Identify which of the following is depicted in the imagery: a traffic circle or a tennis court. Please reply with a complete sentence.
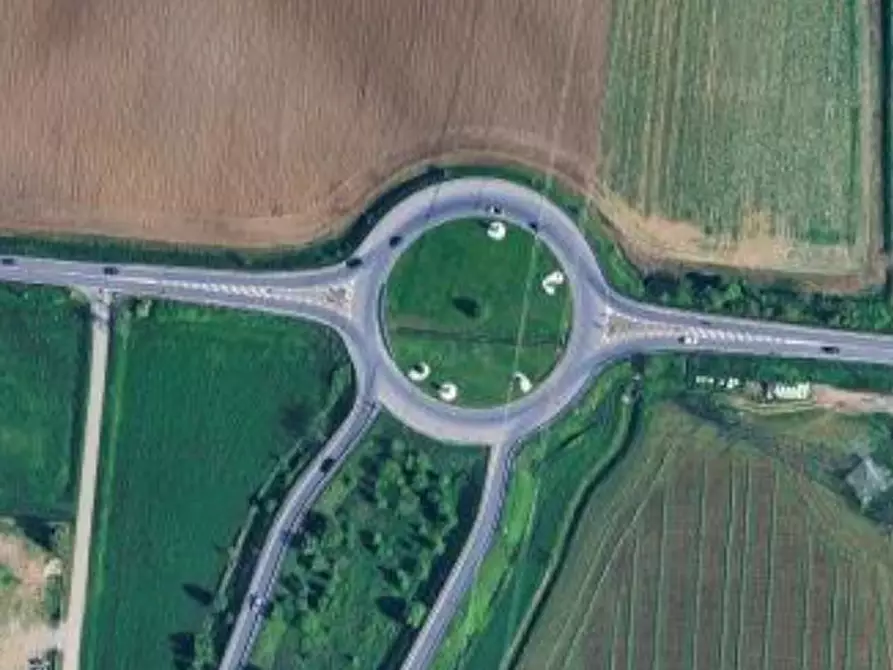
It is a traffic circle that can be seen here.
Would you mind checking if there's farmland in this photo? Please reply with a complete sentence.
Yes, the picture does contain farmland.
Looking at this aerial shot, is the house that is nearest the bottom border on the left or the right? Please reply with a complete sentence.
The house that is nearest the bottom border appears in the right half of the scene.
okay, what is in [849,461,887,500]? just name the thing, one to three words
house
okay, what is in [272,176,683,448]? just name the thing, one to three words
roundabout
